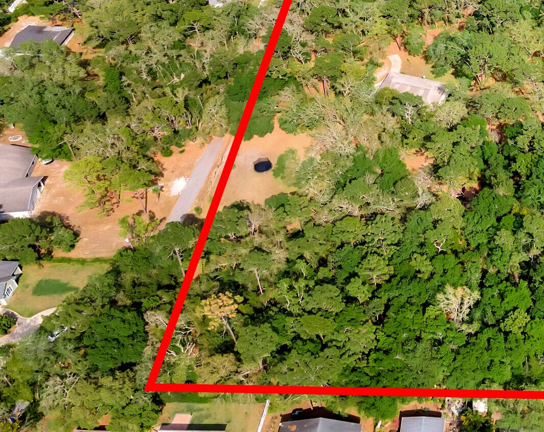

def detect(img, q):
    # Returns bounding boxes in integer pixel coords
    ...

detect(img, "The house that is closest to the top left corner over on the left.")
[10,28,72,54]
